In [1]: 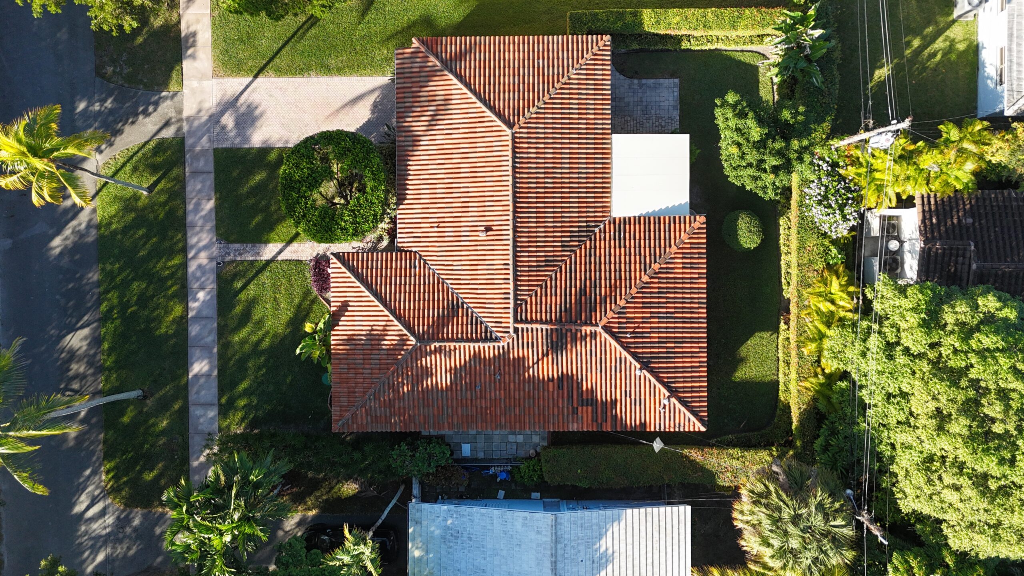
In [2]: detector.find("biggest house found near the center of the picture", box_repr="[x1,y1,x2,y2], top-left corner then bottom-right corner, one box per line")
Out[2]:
[328,33,709,434]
